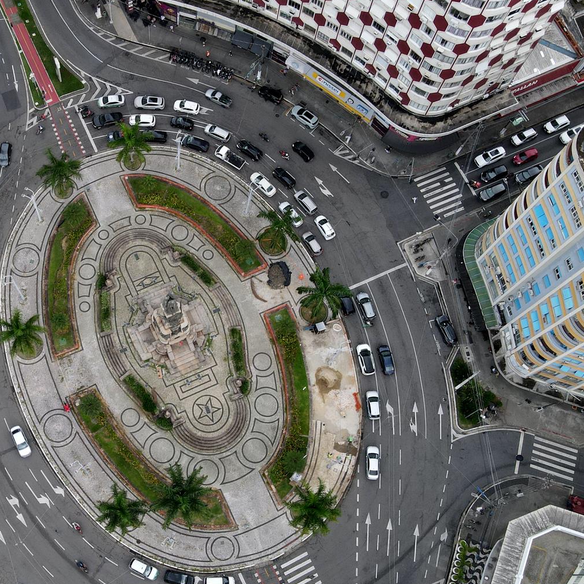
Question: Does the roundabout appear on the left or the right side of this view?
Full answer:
The roundabout is on the left side of the image.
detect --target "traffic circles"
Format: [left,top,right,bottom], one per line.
[0,146,362,572]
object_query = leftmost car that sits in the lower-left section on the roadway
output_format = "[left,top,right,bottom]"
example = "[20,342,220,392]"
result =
[9,425,31,459]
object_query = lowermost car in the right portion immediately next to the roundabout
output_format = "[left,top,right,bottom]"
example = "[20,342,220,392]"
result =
[365,446,381,481]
